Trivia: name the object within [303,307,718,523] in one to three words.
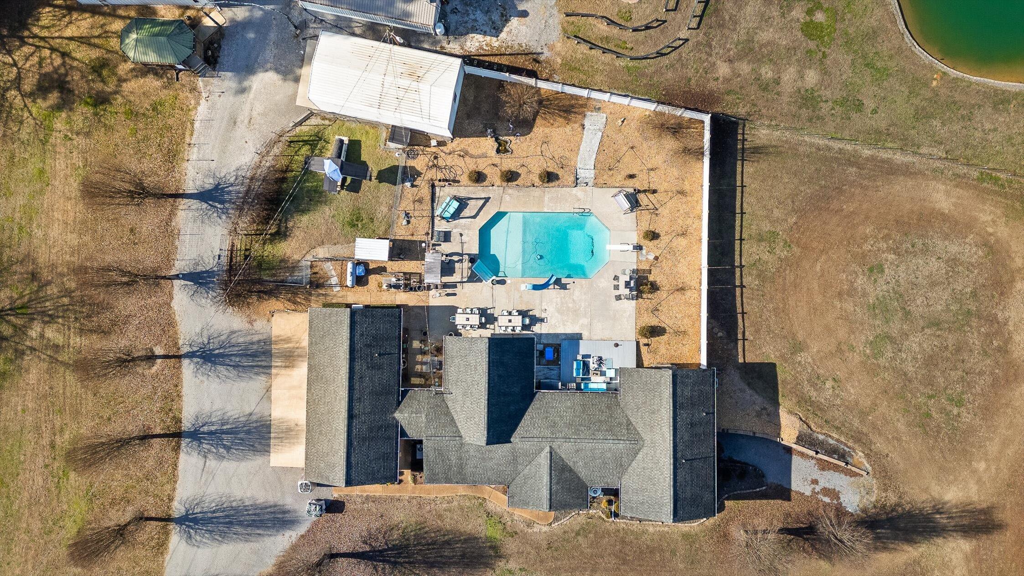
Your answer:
house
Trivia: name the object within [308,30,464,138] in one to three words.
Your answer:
barn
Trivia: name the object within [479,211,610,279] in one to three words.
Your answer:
swimming pool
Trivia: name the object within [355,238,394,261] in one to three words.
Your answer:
shed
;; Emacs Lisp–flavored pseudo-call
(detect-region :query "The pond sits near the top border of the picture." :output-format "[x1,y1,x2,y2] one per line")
[888,0,1024,92]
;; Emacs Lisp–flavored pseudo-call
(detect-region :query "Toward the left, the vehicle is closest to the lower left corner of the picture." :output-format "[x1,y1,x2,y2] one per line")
[307,497,327,515]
